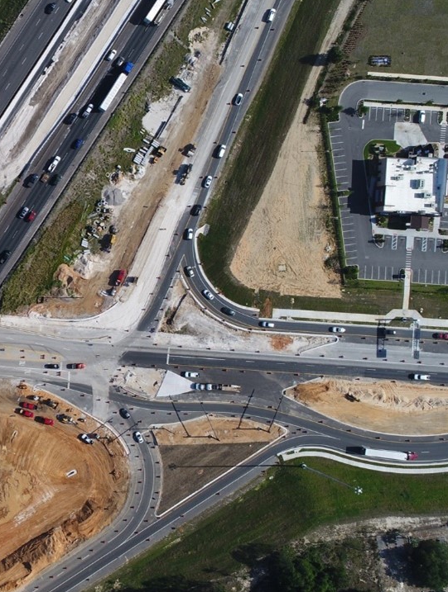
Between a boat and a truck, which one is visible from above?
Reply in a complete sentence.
There is a truck in the scene.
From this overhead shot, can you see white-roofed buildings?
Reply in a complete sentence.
Yes, you can see a white-roofed building in this photo.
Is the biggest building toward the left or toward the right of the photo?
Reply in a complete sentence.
It is on the right.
